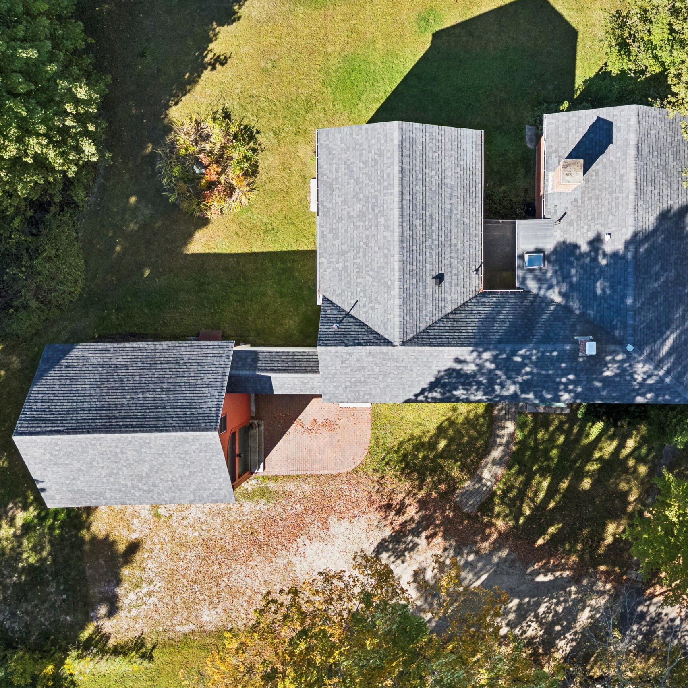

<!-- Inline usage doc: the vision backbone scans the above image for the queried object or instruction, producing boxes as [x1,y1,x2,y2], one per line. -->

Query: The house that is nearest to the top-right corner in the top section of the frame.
[313,105,688,402]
